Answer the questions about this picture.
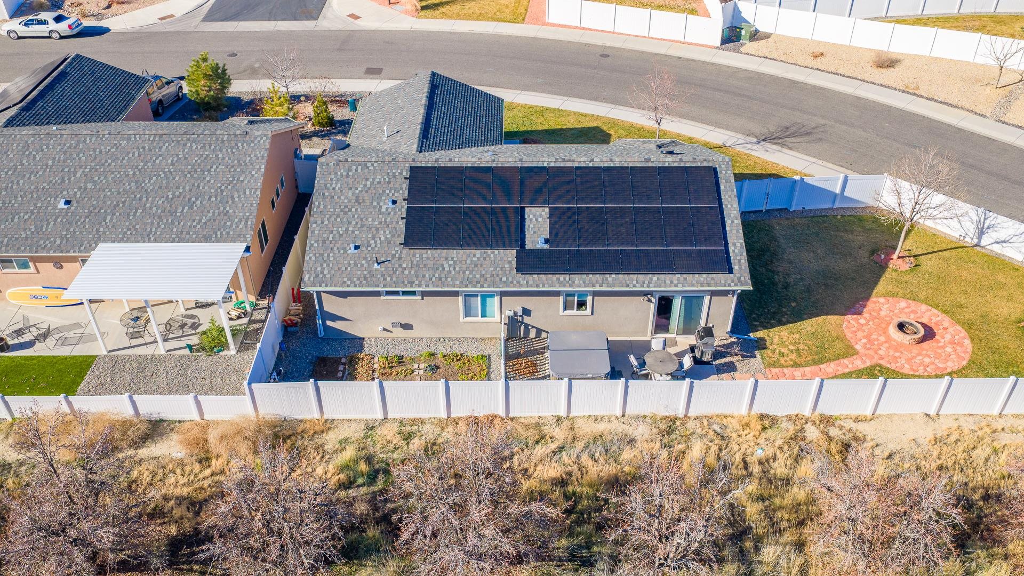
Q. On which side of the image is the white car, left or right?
left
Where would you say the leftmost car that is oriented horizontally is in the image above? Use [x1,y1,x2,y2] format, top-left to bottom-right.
[0,9,83,39]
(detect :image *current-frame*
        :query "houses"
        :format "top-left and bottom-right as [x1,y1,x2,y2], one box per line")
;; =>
[0,57,306,300]
[300,73,757,341]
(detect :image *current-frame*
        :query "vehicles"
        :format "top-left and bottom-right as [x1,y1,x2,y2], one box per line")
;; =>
[0,9,83,39]
[134,70,186,119]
